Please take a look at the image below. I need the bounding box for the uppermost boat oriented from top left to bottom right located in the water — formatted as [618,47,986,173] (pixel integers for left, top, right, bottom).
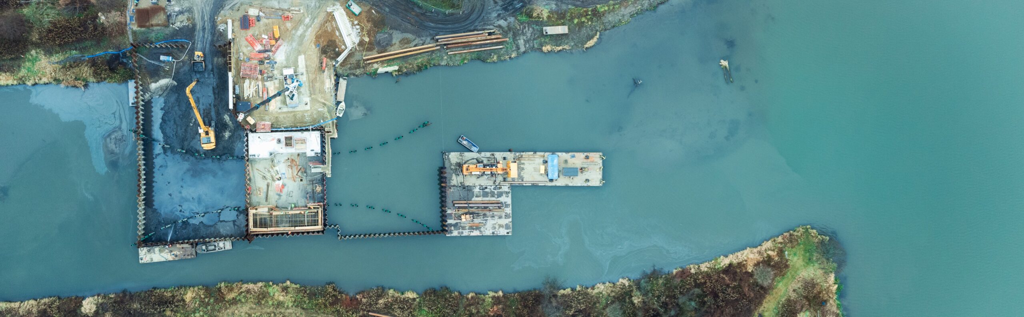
[458,135,479,152]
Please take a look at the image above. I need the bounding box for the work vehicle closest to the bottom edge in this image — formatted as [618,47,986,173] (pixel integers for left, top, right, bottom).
[186,75,215,150]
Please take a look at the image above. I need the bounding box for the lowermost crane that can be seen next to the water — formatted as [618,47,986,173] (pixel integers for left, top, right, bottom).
[460,151,522,184]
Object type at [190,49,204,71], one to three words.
vehicle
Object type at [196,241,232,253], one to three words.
boat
